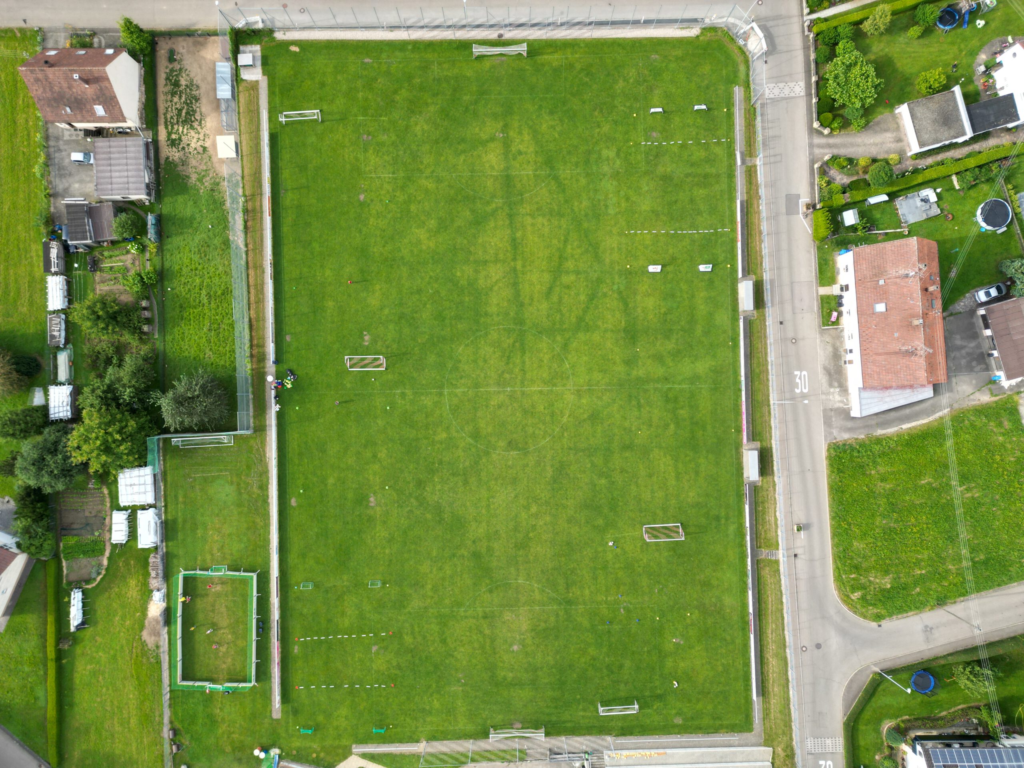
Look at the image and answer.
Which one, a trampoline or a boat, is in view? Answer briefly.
trampoline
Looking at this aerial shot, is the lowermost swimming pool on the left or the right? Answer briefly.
right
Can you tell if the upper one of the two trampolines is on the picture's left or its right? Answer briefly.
right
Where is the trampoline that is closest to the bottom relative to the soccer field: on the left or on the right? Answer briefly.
on its right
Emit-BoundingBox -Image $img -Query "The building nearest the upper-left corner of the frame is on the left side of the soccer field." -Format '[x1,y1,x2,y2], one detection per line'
[19,49,141,129]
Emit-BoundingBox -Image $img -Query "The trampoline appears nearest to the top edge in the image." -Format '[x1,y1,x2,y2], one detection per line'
[935,5,959,35]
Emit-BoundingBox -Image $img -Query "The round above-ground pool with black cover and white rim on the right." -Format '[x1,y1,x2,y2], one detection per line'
[972,200,1013,233]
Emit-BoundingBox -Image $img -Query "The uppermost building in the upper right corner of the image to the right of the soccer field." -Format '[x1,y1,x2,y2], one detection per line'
[992,37,1024,97]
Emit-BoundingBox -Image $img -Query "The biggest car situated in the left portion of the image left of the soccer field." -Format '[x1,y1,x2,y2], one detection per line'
[67,149,94,165]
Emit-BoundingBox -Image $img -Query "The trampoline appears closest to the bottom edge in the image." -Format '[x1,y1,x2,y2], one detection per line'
[912,670,941,701]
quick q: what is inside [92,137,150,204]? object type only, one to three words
building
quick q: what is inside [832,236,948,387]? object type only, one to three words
house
